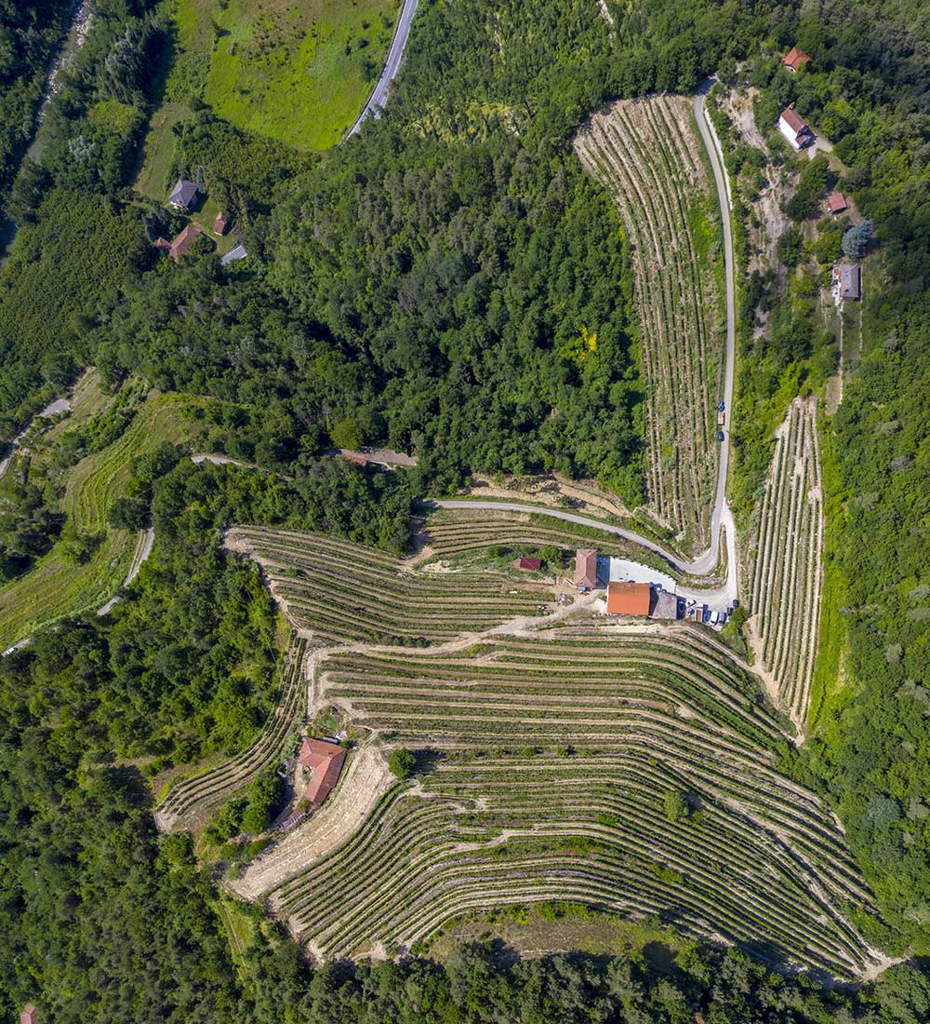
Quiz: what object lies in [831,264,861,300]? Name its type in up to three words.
house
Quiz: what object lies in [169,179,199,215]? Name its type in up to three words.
house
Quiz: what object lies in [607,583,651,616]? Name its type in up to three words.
barn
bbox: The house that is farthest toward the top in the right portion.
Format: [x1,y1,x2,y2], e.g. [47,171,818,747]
[784,48,811,72]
